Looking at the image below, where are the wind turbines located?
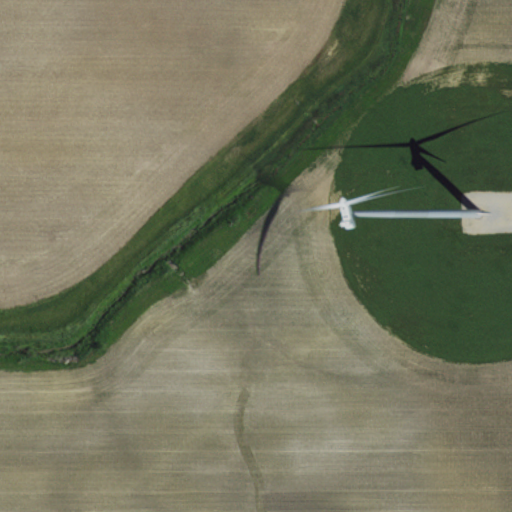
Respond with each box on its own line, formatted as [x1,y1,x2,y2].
[202,184,488,230]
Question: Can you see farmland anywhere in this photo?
Yes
